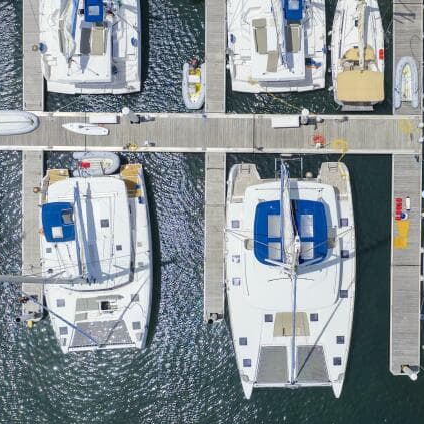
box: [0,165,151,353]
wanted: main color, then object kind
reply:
white boat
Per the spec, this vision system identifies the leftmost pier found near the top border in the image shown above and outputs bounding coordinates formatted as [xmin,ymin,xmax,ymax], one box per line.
[23,0,44,112]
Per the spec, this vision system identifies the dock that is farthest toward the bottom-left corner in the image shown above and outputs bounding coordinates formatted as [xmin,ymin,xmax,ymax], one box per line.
[22,151,44,321]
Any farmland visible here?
No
